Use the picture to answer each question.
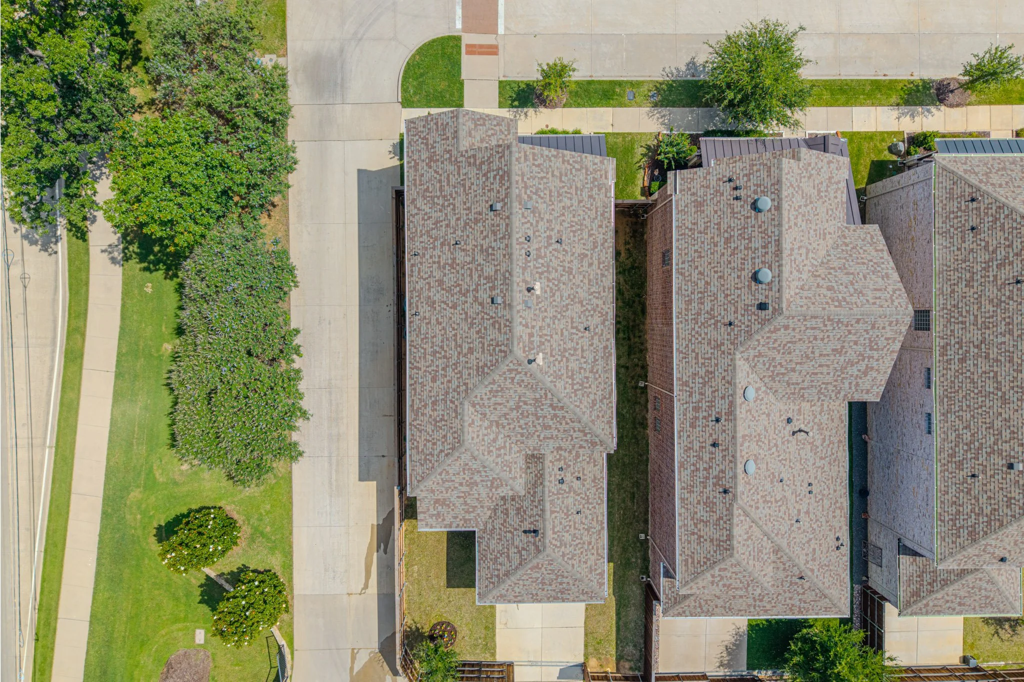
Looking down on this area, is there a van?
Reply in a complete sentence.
No, I can see no van in this picture.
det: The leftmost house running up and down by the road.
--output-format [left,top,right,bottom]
[404,109,618,606]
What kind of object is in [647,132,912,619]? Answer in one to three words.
house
